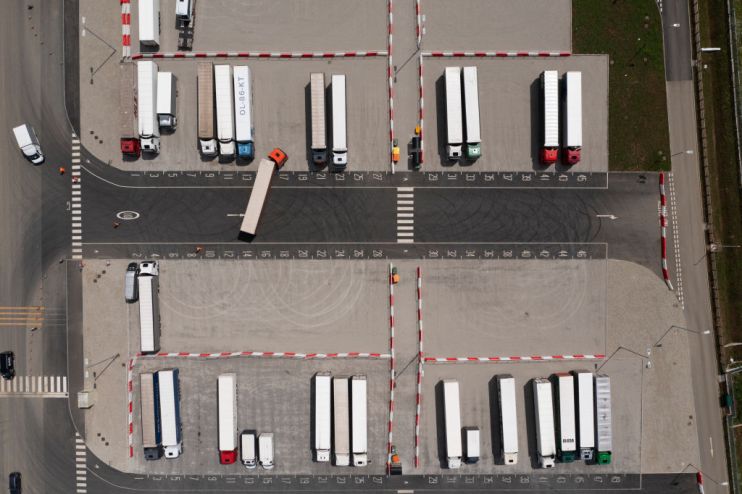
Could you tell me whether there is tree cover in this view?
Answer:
No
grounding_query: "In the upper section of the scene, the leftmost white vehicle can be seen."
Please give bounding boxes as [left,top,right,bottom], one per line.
[14,125,42,162]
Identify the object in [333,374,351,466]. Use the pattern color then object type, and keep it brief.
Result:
white vehicle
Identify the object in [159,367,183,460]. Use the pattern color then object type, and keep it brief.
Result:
white truck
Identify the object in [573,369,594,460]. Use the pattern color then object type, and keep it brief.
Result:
white truck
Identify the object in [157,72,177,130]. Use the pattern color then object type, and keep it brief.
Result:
white vehicle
